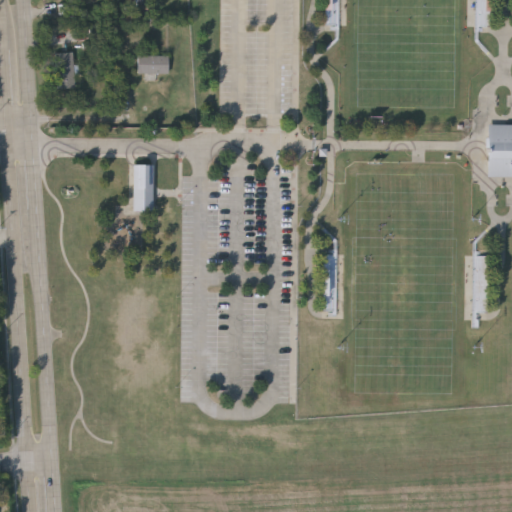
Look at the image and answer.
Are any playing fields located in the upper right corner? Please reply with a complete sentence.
Yes, there is a playing field in the upper right corner.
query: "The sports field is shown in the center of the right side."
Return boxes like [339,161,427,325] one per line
[348,164,469,400]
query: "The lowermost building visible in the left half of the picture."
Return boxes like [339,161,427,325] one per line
[133,164,154,212]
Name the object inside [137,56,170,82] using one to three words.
house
